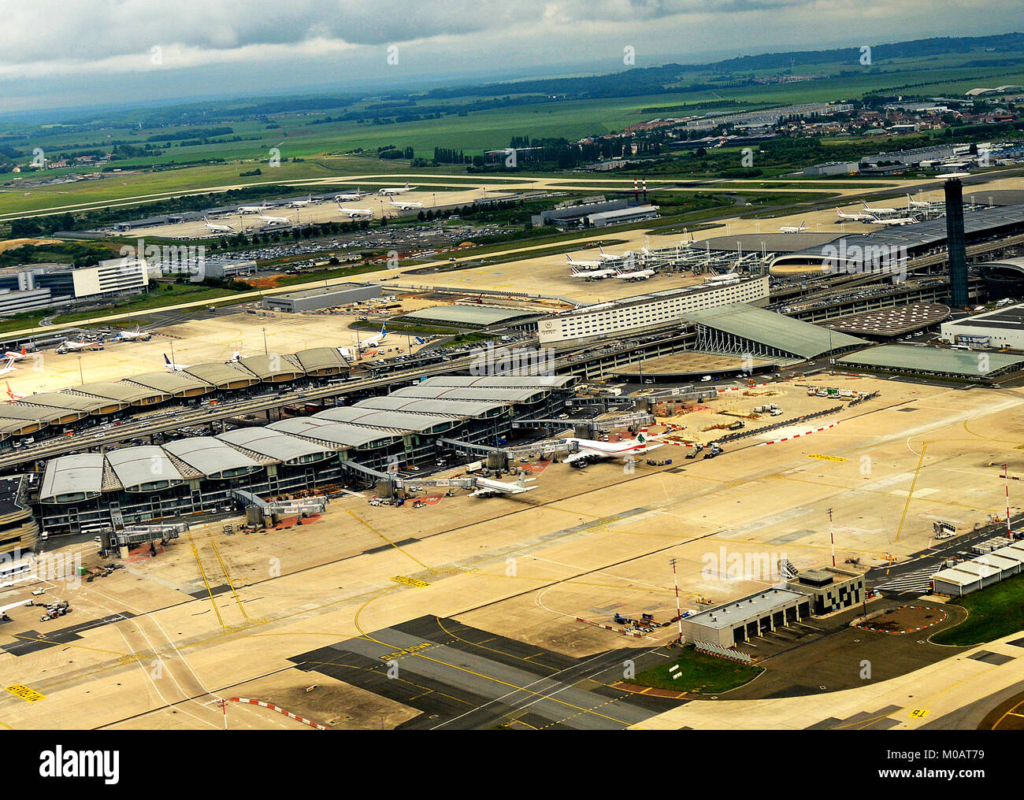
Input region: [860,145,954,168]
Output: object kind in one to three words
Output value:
building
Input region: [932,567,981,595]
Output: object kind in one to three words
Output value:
shed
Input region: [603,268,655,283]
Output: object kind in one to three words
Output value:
airplane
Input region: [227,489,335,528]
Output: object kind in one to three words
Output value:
jet bridge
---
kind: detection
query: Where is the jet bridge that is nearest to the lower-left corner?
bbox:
[97,508,195,555]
